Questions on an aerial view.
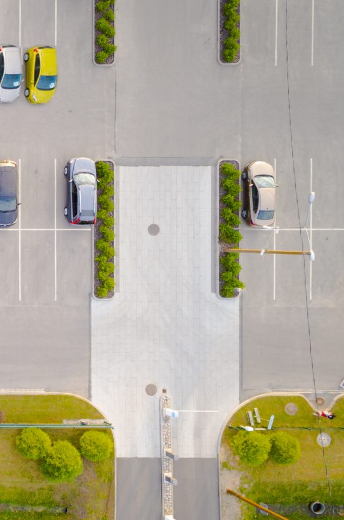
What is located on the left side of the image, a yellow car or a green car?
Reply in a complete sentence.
You can see a yellow car on the left side of the image.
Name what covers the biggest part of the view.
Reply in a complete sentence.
For the most part, this view shows paved ground.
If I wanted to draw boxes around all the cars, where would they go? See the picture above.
[0,160,21,227]
[25,47,56,104]
[0,46,21,103]
[65,158,99,225]
[242,160,278,227]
